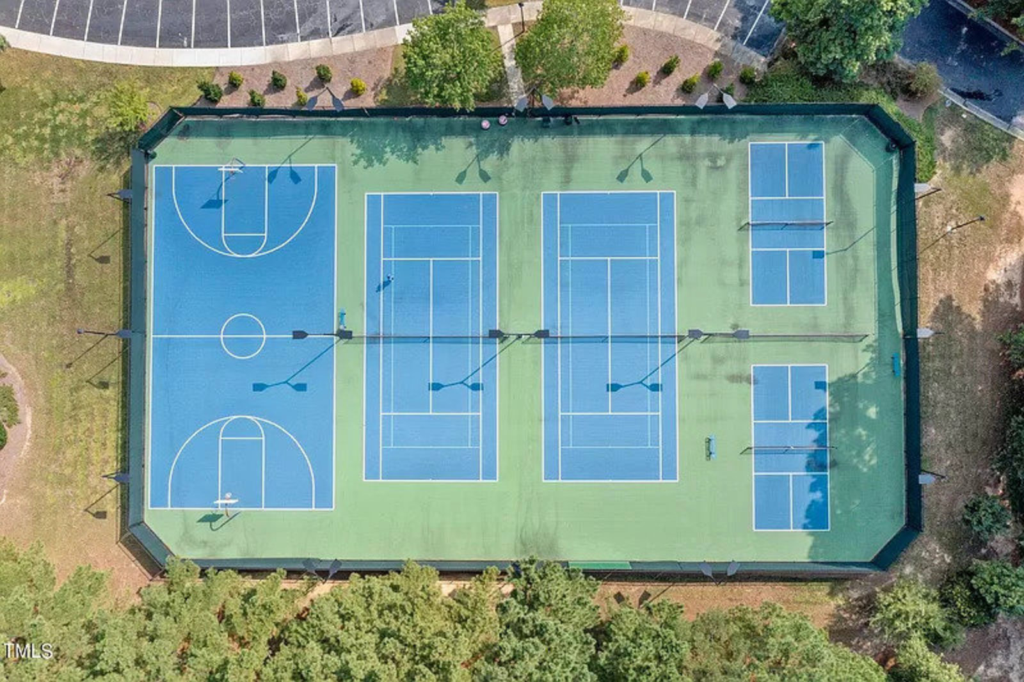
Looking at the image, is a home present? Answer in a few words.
No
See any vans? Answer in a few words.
No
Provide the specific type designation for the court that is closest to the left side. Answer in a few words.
basketball court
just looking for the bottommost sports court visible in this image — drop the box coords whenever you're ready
[752,365,830,531]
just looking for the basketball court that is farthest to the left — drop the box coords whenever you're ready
[149,164,336,510]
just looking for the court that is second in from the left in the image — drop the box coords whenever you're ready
[364,192,498,481]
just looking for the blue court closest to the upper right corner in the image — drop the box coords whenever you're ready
[749,142,826,305]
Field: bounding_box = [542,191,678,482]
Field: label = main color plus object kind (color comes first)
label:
blue tennis court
